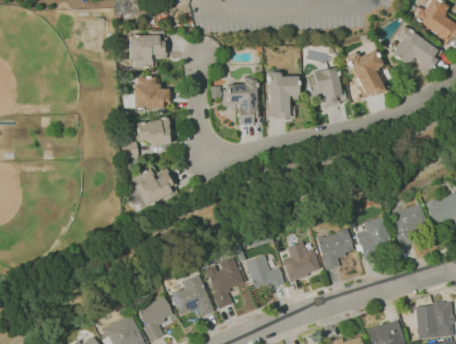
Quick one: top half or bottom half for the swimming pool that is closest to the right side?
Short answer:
top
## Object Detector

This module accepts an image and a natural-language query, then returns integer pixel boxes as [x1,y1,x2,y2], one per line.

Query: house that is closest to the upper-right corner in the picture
[416,0,456,46]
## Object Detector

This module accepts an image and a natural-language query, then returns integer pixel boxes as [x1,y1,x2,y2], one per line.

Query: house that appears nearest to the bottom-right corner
[417,303,456,340]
